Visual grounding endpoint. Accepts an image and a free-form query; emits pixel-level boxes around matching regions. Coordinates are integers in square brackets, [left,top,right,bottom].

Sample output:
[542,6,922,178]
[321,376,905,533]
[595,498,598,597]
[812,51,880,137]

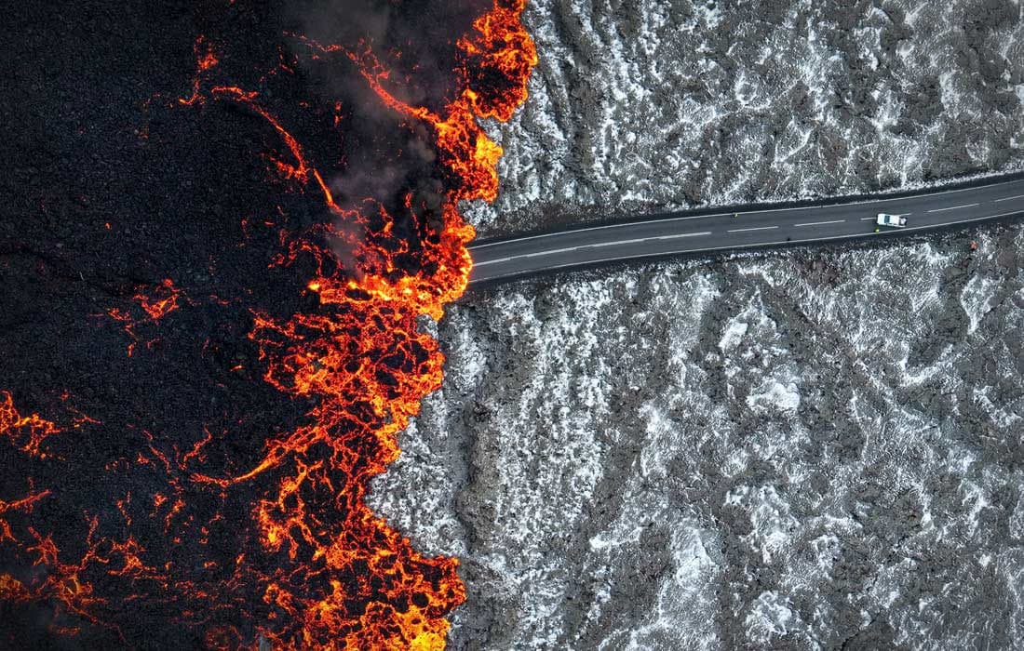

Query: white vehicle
[876,215,908,227]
